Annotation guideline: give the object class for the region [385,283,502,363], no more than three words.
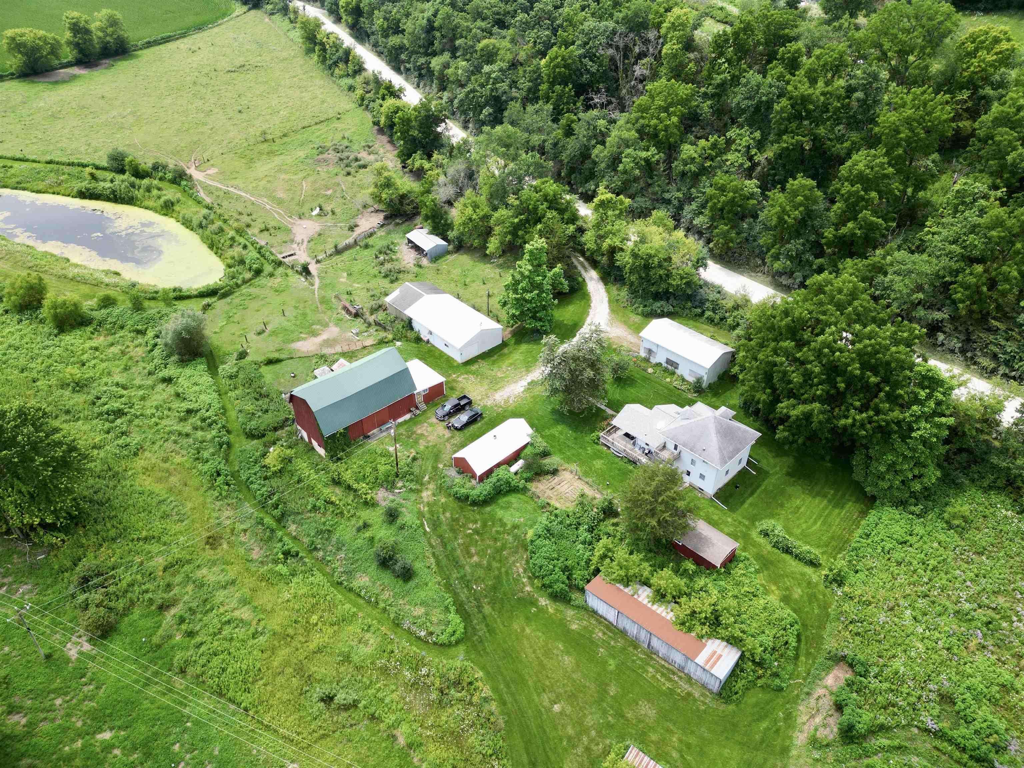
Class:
shed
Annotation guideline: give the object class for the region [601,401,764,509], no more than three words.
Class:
house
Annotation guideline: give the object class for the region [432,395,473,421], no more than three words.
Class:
truck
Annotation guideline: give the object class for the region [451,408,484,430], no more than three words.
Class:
car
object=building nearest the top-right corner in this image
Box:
[639,318,735,386]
